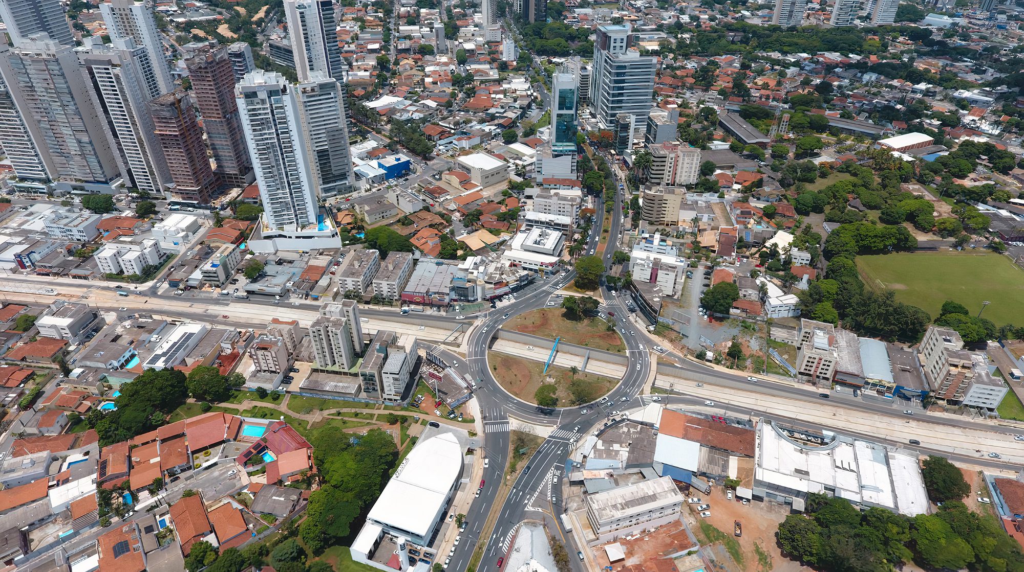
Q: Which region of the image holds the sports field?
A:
right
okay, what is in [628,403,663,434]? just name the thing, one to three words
building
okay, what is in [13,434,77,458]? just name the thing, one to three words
house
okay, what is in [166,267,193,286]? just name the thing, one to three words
building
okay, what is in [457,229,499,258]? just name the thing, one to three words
house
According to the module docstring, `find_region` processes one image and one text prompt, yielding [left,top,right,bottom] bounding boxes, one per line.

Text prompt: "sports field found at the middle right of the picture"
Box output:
[857,252,1024,328]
